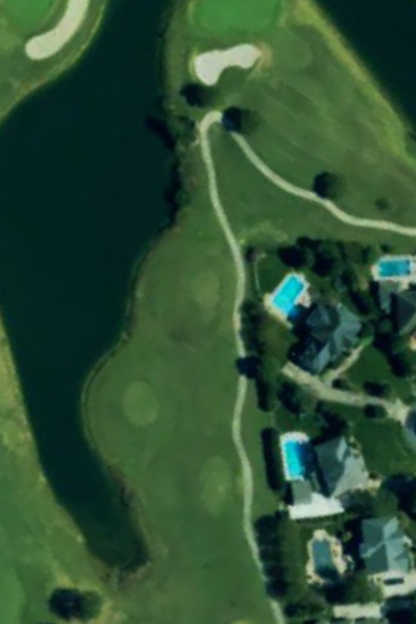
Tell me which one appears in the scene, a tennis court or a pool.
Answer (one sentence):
The one in the frame is a pool.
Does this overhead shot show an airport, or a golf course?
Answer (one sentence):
The area seen from above is a golf course.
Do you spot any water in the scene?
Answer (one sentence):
Yes, the picture does contain water.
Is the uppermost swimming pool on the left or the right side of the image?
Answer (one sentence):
It is on the right.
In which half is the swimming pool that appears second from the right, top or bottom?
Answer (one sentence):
You can find the swimming pool that appears second from the right in the bottom half.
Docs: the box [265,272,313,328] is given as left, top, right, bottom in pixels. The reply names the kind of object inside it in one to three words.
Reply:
swimming pool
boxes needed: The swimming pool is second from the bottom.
[280,432,318,480]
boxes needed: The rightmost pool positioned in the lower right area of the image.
[306,530,347,584]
